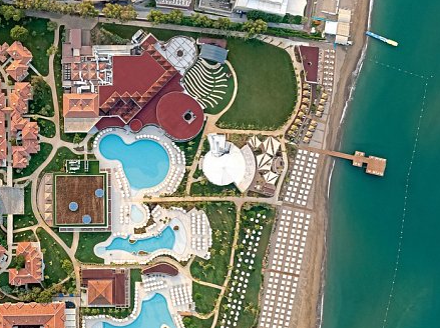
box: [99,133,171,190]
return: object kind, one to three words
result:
swimming pool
